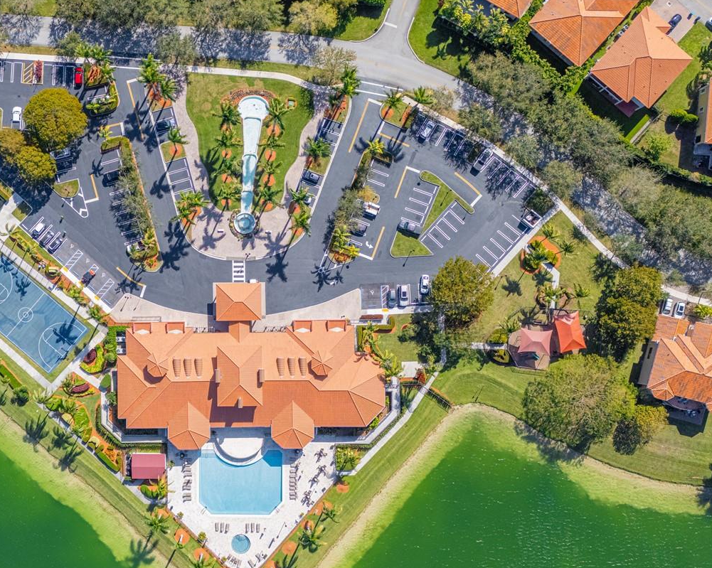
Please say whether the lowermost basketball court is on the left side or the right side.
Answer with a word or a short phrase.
left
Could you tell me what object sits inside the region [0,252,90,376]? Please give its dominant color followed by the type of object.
blue basketball court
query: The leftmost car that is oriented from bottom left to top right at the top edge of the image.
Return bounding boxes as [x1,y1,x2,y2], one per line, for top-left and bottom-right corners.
[666,12,682,31]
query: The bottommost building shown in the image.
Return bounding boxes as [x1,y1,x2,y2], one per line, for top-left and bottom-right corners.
[132,455,166,479]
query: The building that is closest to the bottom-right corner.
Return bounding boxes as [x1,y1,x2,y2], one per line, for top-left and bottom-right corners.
[639,315,712,426]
